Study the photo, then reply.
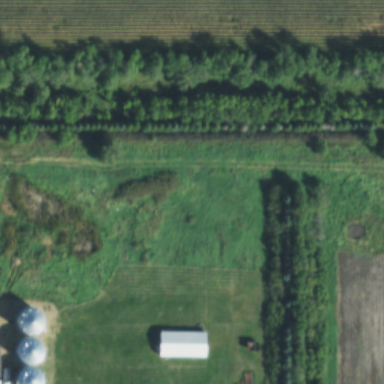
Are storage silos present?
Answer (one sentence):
Yes, I can see a storage silo in this picture.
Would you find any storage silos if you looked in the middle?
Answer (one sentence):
No, no storage silo can be made out in the middle.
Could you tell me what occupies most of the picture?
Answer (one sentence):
The scene is dominated by grass.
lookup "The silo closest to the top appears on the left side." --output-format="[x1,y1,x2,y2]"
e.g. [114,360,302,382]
[14,308,43,336]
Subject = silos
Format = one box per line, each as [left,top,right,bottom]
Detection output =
[14,337,44,366]
[14,308,43,336]
[14,367,43,384]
